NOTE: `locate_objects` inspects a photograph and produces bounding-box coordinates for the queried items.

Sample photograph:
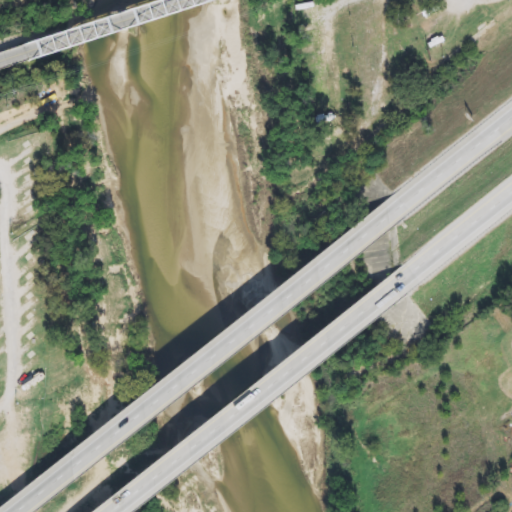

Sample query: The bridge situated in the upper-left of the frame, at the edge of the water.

[0,0,211,67]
